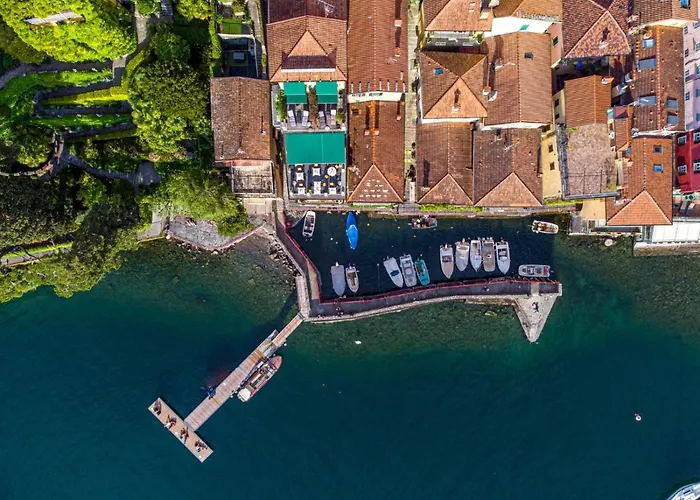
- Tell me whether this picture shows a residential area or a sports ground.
residential area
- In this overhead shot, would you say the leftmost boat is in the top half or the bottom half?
bottom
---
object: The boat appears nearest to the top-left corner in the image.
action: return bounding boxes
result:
[303,213,315,242]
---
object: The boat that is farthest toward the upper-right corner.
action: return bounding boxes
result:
[526,220,559,233]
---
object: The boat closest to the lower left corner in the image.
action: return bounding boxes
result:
[236,358,280,404]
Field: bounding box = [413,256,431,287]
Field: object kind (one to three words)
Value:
boat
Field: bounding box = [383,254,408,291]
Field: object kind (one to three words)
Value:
boat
